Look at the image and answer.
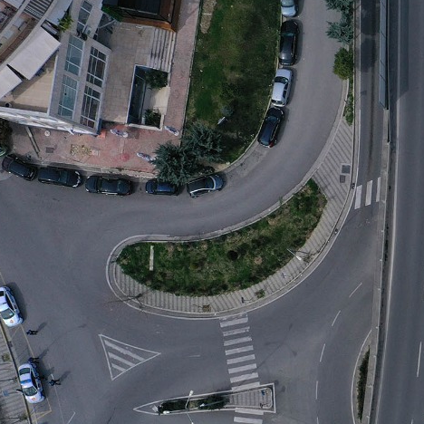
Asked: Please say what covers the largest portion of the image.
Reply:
paved ground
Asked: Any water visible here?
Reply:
No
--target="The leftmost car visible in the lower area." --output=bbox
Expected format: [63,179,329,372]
[0,285,24,329]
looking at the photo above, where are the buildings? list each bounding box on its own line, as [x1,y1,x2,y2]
[116,0,184,31]
[0,0,111,134]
